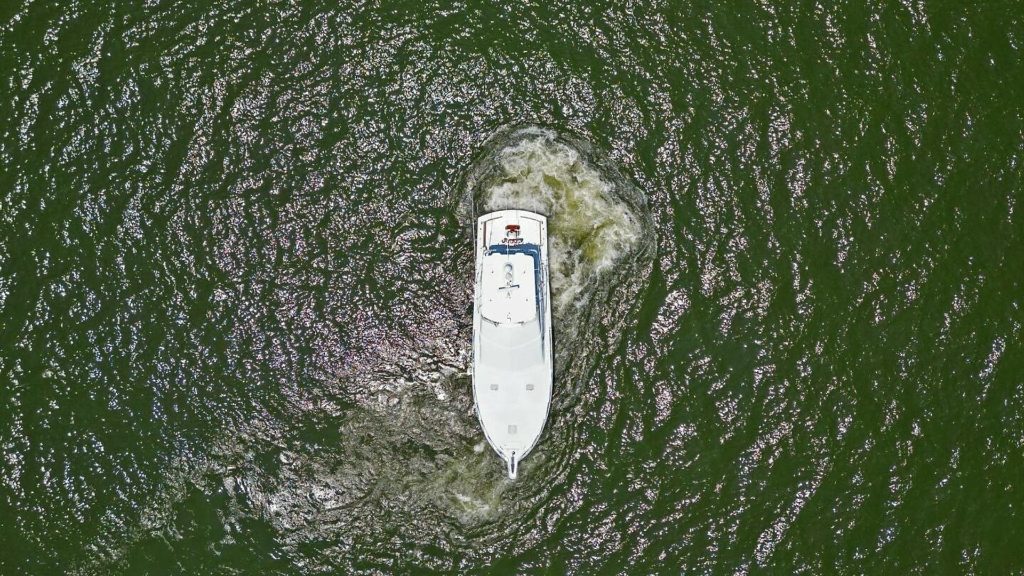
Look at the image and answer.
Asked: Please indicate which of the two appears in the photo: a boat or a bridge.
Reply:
boat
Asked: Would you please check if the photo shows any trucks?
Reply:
No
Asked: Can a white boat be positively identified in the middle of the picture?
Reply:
Yes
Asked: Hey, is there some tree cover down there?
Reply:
No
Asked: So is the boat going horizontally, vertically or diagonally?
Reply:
vertically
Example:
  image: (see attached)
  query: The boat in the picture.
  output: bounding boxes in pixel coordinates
[472,193,554,482]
